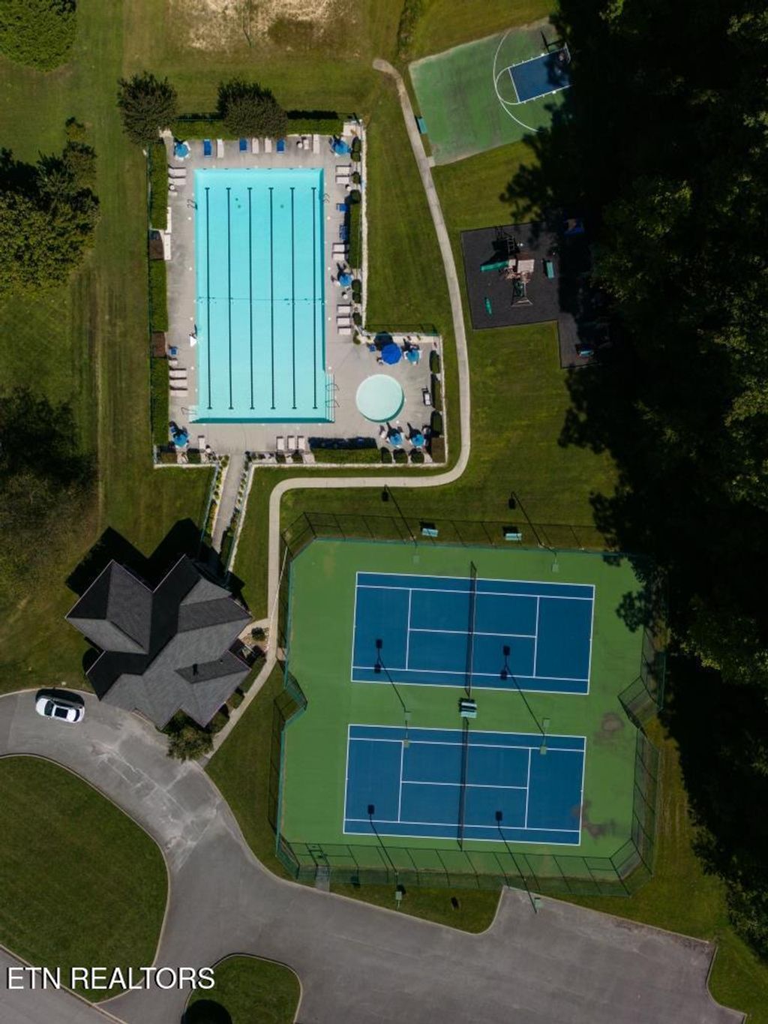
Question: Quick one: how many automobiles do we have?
1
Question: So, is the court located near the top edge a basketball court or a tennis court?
basketball court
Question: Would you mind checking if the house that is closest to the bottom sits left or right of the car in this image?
to the right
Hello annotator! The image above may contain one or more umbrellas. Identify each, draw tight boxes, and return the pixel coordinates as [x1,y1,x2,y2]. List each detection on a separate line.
[334,140,350,157]
[405,349,421,365]
[337,273,353,289]
[409,432,425,448]
[379,344,402,367]
[174,143,191,160]
[387,430,403,447]
[172,430,189,447]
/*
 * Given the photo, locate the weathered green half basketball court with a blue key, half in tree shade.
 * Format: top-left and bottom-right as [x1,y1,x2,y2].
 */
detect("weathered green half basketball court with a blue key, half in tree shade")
[409,14,590,165]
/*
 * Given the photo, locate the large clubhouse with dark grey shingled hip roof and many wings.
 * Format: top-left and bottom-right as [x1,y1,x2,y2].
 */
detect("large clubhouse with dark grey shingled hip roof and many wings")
[66,554,269,730]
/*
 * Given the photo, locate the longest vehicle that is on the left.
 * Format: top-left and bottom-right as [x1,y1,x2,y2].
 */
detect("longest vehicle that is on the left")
[33,696,81,723]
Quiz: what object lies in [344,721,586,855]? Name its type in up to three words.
tennis court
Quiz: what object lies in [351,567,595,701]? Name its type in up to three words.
tennis court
